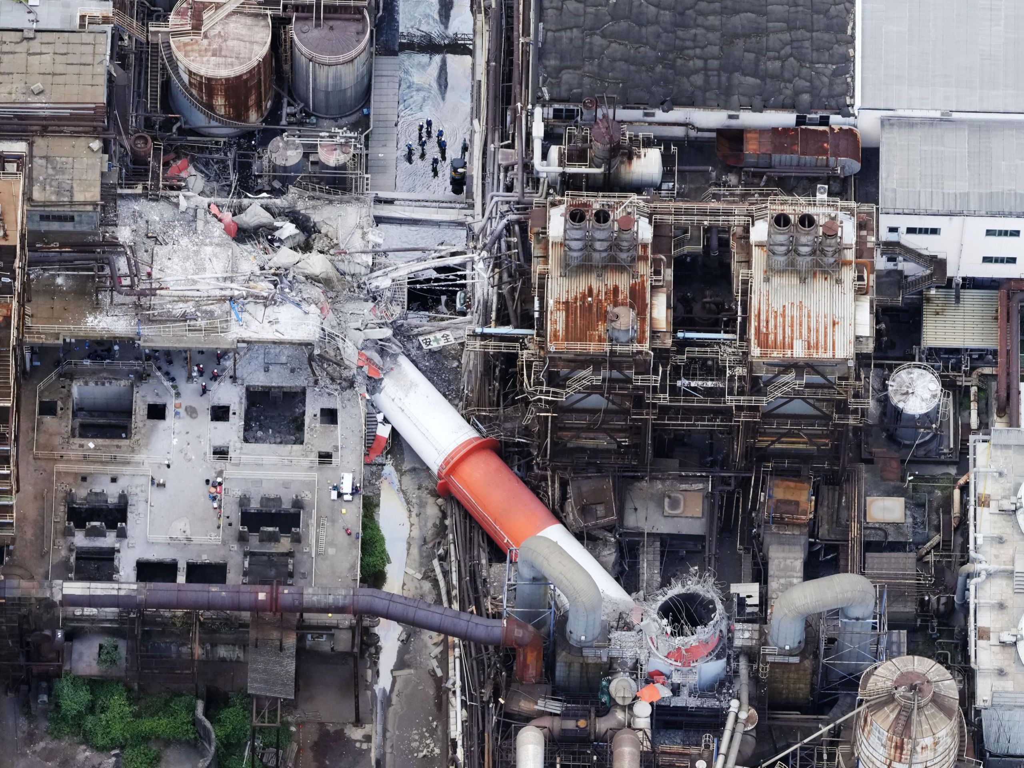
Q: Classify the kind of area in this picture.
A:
industrial area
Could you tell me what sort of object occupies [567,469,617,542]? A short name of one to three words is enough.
building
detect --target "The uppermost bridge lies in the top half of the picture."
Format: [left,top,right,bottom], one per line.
[399,33,473,56]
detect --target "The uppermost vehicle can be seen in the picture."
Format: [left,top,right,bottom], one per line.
[448,138,470,187]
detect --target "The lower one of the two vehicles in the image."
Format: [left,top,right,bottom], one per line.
[454,287,466,319]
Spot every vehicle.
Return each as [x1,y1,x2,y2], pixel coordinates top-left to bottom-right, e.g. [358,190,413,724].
[448,138,470,187]
[454,287,466,319]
